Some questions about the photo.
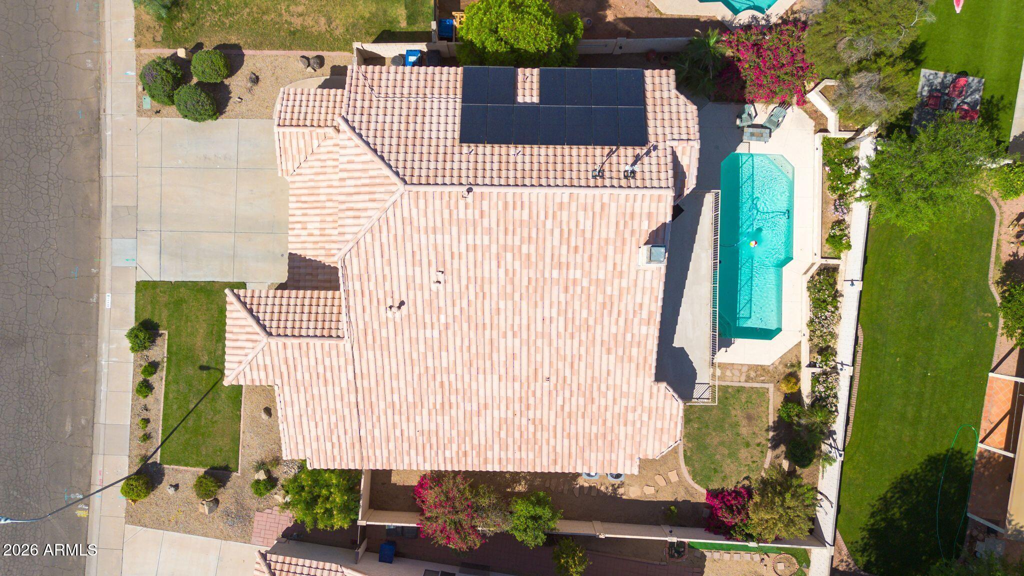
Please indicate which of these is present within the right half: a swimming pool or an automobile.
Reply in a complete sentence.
It is a swimming pool that can be seen within the right half.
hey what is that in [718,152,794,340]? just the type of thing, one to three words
swimming pool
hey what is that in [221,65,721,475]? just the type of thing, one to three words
house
